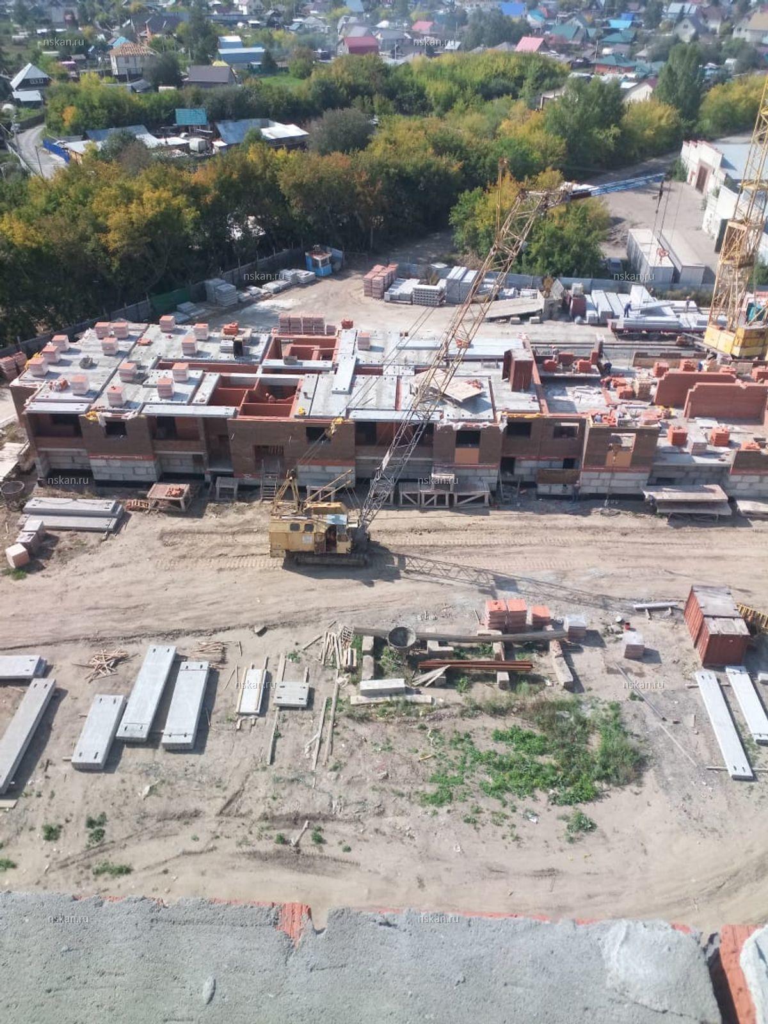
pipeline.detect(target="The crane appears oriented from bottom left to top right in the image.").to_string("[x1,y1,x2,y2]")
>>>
[267,158,668,573]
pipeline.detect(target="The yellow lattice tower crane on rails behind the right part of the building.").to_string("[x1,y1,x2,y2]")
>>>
[680,92,768,357]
